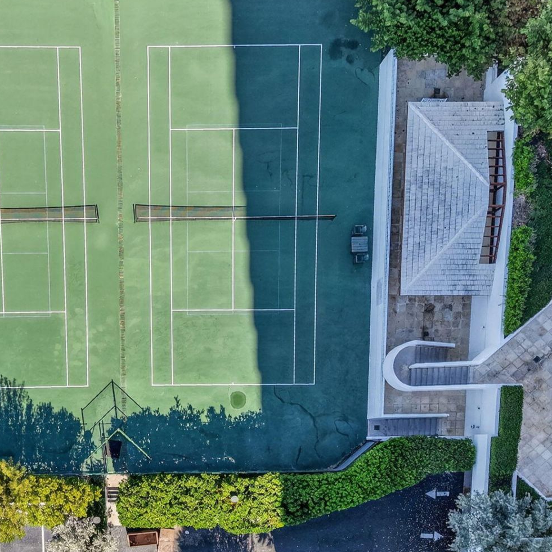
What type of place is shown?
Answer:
sports ground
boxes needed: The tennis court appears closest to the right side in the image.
[119,0,382,475]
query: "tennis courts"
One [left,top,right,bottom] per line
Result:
[0,0,127,480]
[119,0,382,475]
